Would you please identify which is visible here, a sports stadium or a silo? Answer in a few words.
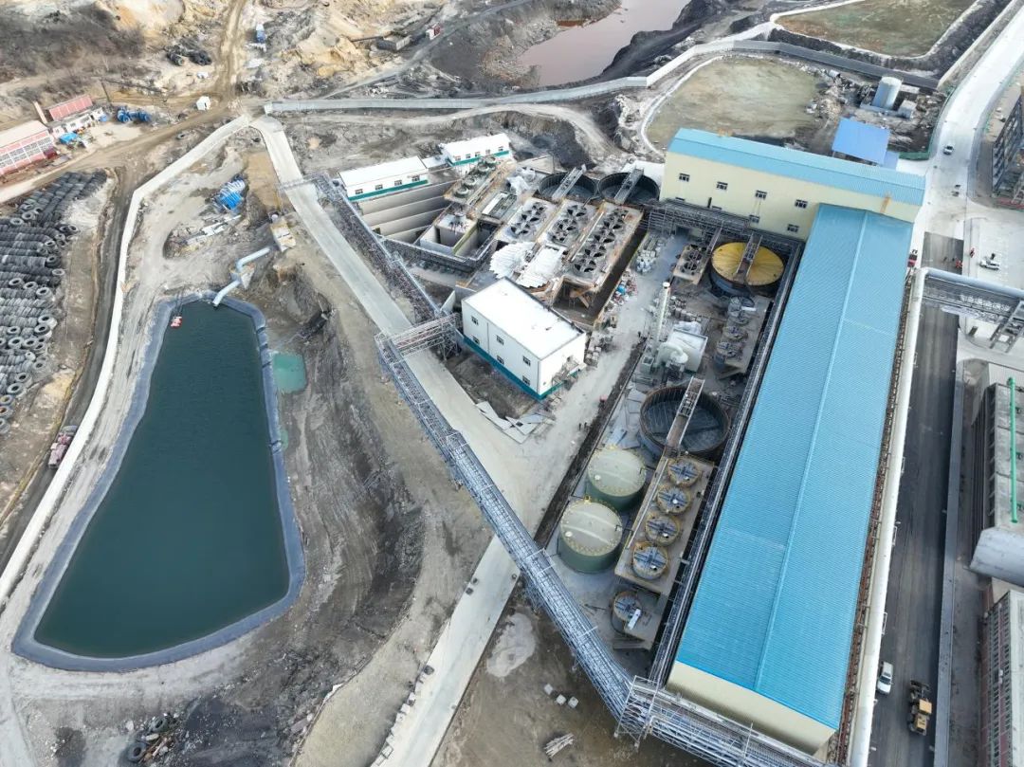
silo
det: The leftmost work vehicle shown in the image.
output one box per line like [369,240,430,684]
[44,433,69,462]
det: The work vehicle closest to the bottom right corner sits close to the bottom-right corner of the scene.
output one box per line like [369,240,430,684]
[904,675,933,735]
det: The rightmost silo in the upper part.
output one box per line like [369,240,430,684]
[874,77,905,109]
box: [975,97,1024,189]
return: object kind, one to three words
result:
building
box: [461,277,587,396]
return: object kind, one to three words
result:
building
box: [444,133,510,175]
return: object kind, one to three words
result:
shed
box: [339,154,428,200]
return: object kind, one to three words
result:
shed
